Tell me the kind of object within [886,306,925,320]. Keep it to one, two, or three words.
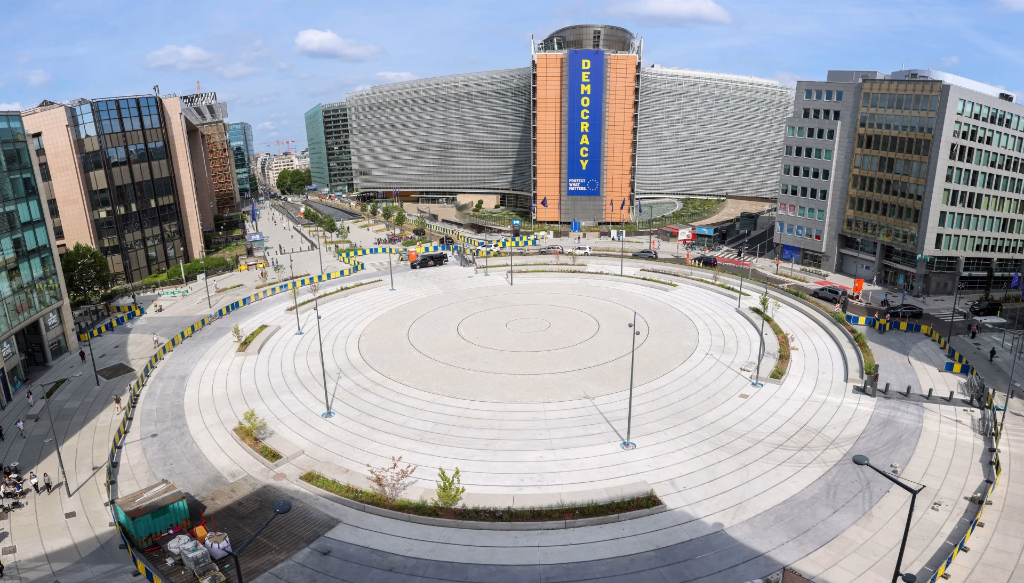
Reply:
car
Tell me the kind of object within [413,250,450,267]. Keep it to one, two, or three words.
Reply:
vehicle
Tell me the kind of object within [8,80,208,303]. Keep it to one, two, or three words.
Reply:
building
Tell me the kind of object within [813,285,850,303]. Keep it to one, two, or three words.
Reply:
vehicle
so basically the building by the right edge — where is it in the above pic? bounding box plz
[773,61,1024,296]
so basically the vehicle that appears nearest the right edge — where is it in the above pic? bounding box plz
[974,302,1001,318]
